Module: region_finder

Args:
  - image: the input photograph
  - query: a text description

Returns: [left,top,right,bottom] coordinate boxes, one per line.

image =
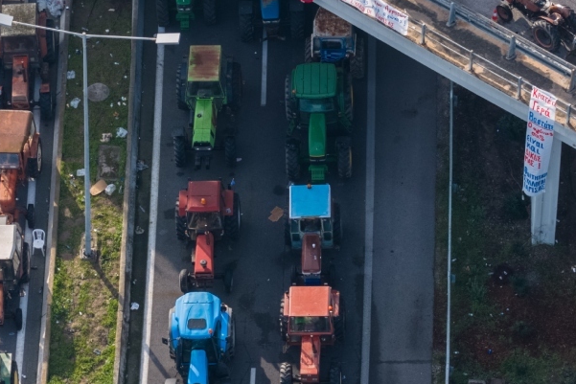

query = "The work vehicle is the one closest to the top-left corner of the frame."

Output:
[0,0,55,119]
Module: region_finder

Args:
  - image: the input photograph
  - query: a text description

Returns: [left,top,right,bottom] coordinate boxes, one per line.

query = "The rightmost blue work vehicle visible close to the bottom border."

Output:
[163,287,237,384]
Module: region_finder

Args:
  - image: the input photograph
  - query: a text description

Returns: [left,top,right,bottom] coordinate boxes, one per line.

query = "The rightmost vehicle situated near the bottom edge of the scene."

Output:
[279,283,346,384]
